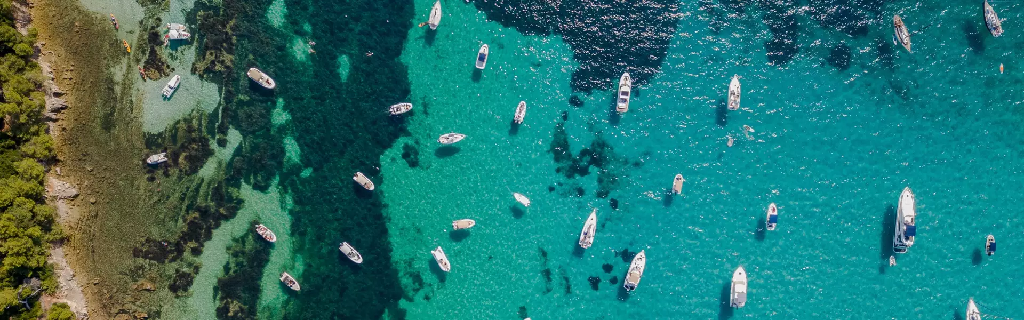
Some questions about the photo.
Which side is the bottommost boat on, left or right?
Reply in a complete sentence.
The bottommost boat is on the right side of the image.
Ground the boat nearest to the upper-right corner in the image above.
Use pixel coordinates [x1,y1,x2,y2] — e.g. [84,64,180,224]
[982,0,1015,38]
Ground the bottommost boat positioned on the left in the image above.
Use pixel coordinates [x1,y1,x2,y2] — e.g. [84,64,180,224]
[279,274,300,290]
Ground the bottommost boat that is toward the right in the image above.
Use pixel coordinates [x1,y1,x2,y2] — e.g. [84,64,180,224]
[966,299,1005,320]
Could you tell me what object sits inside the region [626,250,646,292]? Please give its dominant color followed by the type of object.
white boat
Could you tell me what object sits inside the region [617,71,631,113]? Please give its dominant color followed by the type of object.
white boat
